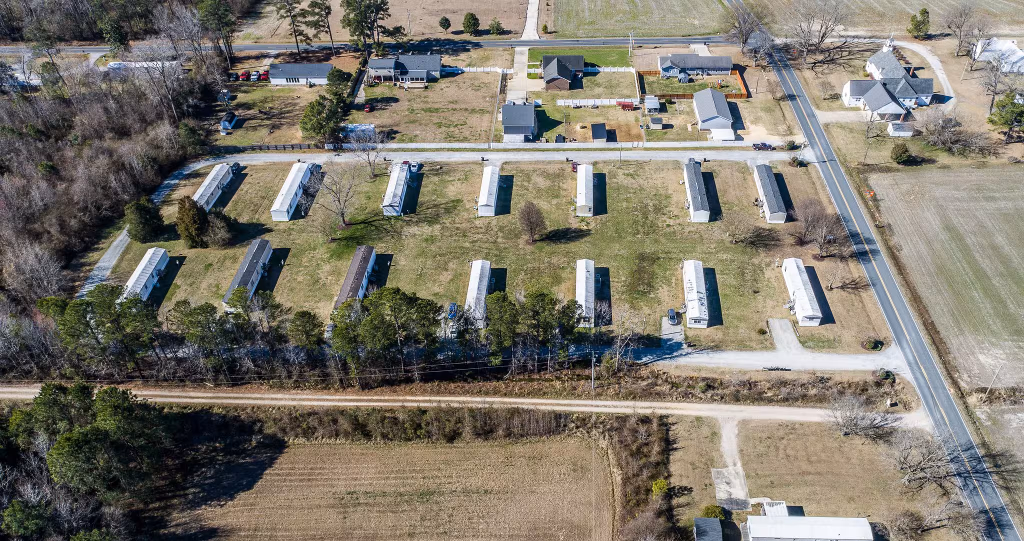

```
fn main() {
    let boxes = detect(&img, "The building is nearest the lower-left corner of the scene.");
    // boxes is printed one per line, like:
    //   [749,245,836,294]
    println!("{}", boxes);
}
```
[116,247,168,314]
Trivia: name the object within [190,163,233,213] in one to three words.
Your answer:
house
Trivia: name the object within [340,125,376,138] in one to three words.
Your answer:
shed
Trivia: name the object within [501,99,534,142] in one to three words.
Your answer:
building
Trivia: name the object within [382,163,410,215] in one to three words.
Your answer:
house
